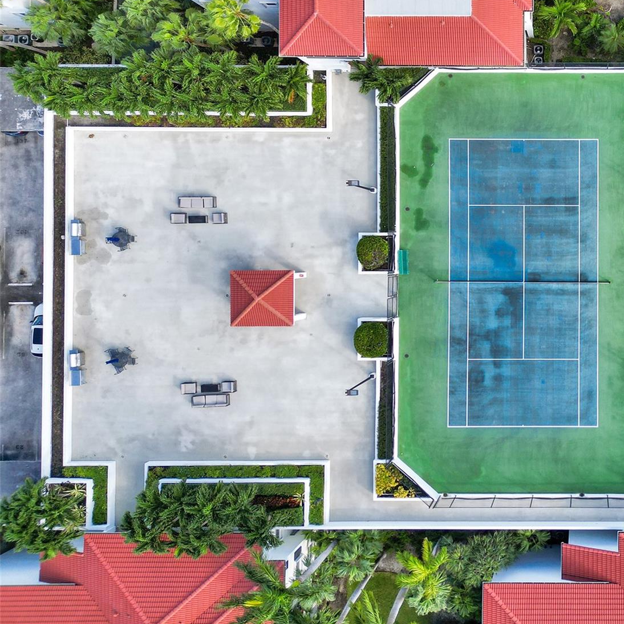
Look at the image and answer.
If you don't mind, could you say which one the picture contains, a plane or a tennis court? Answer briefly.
tennis court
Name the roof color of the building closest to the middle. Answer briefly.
red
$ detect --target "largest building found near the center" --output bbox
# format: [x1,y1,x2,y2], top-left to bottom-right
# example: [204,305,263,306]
[228,268,310,329]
